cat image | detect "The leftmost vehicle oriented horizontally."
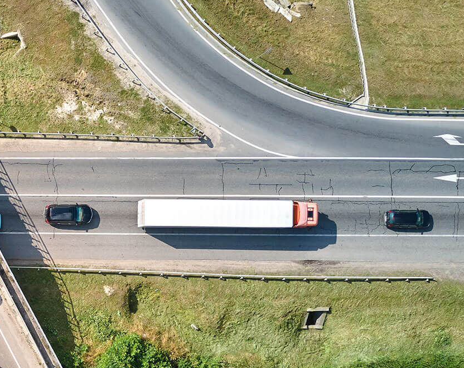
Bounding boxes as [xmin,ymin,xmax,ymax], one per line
[44,203,91,226]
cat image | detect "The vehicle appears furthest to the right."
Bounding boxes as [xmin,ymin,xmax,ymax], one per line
[382,208,430,231]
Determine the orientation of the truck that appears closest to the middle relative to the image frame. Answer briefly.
horizontally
